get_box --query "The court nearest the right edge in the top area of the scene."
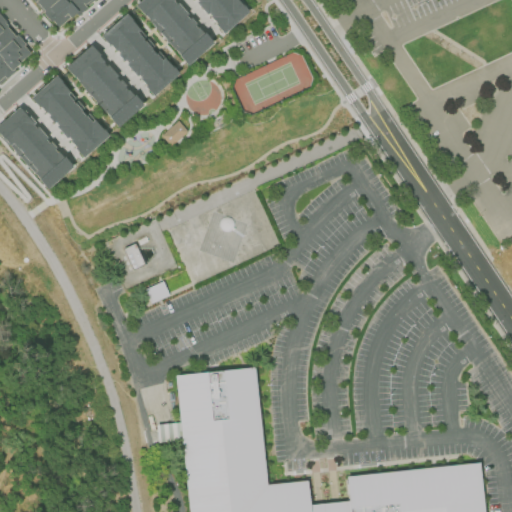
[235,53,313,112]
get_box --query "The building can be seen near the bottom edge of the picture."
[177,368,487,512]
